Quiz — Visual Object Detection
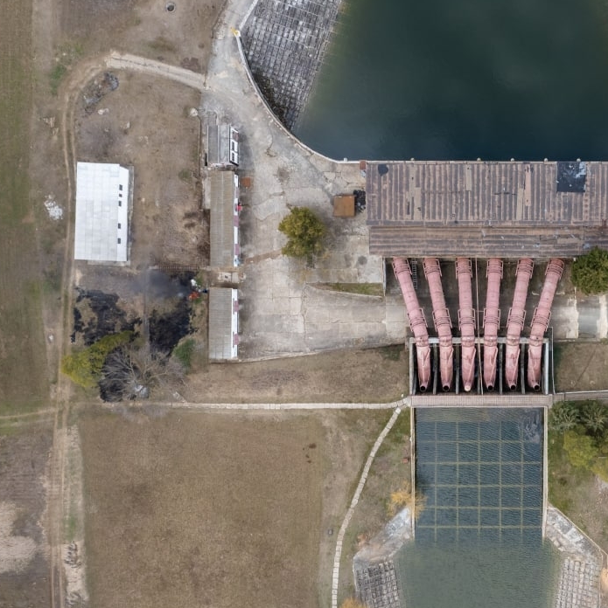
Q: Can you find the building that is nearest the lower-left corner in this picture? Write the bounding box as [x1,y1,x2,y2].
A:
[209,288,239,360]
